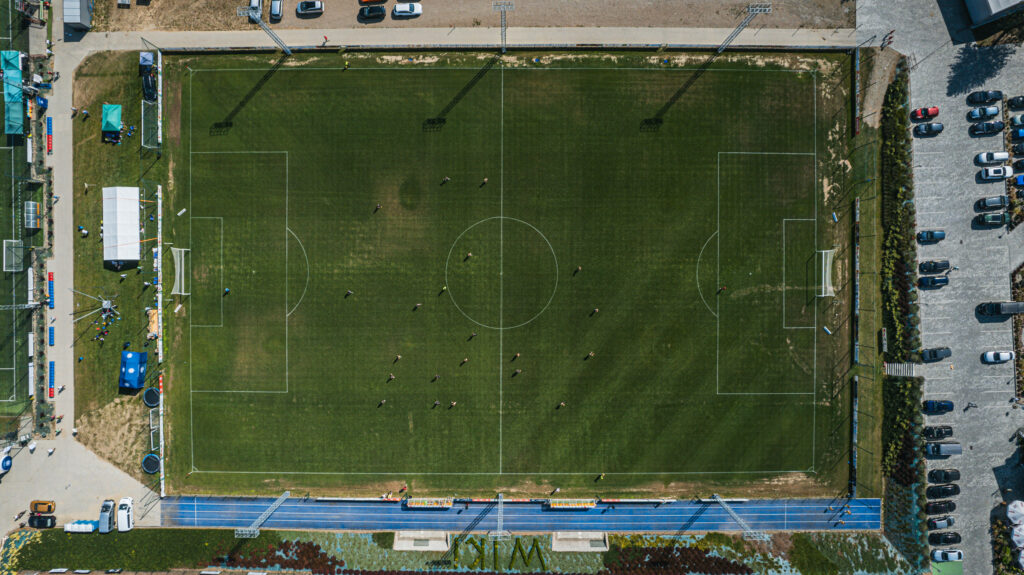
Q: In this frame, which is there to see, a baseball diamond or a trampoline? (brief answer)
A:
trampoline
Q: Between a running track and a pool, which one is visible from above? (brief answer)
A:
running track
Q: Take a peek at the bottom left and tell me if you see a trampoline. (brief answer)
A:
Yes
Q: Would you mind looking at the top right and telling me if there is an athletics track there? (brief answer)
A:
No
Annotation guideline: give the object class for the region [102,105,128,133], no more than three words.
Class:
gazebo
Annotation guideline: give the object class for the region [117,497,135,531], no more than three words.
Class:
vehicle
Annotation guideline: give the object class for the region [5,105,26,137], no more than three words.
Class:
gazebo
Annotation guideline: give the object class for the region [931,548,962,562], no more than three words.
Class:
car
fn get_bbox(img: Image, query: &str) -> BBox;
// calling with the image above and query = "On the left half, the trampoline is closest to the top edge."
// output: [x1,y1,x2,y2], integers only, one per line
[139,388,160,407]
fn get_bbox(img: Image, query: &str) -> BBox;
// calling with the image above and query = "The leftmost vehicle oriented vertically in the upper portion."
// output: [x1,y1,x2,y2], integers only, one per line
[142,75,158,104]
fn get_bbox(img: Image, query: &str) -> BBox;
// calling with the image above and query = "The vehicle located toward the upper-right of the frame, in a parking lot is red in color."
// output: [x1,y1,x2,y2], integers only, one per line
[912,106,939,120]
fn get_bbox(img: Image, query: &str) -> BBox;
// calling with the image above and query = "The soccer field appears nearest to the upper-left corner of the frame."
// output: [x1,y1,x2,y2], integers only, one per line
[0,0,33,441]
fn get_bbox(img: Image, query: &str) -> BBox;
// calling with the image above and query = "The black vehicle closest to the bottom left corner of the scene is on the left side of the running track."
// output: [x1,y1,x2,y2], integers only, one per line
[27,514,58,529]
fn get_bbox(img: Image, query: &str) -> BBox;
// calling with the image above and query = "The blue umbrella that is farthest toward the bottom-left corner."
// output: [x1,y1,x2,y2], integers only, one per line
[1,457,19,470]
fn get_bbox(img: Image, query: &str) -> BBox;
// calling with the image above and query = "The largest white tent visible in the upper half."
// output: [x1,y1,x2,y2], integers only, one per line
[103,186,159,262]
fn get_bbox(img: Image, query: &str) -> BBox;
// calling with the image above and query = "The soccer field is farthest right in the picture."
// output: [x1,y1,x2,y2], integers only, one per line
[160,47,857,498]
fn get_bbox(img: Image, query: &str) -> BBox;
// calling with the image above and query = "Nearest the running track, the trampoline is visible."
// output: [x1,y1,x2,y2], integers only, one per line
[142,454,161,475]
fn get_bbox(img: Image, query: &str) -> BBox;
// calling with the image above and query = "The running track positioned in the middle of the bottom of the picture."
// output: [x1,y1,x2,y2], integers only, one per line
[161,497,882,531]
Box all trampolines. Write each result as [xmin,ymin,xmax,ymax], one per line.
[139,388,160,407]
[142,454,161,475]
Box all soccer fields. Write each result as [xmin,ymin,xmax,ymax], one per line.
[0,0,33,441]
[160,47,857,498]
